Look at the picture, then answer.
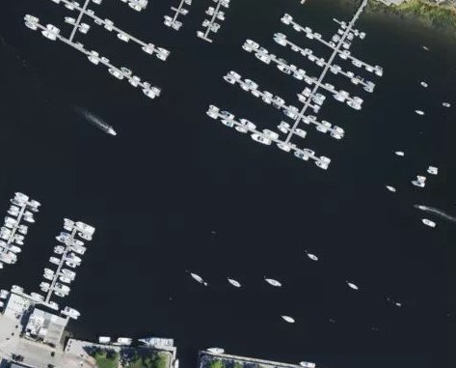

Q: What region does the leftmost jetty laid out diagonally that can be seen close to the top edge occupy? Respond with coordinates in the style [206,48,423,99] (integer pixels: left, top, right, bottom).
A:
[33,0,165,96]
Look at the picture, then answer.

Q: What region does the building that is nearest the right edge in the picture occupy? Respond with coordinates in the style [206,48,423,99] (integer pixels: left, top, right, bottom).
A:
[43,316,69,348]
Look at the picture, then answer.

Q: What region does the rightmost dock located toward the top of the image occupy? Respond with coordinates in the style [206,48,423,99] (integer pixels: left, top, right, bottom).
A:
[213,0,376,162]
